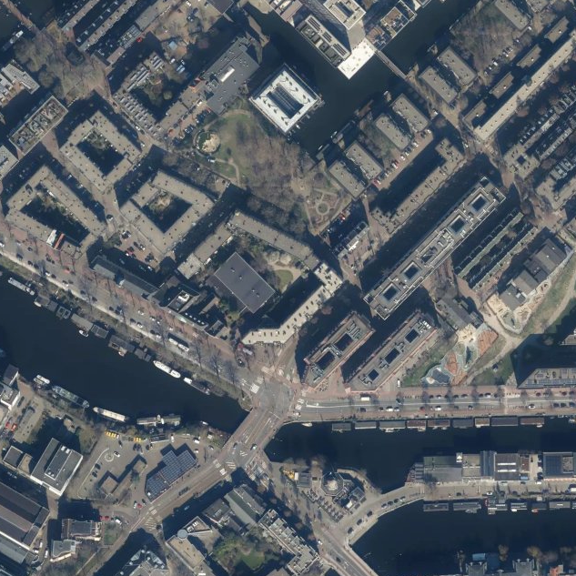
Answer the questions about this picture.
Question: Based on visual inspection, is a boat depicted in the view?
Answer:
Yes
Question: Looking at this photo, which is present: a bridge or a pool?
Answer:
bridge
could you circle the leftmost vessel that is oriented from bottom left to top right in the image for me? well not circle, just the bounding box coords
[1,31,23,50]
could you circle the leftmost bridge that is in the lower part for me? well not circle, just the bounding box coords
[221,406,286,452]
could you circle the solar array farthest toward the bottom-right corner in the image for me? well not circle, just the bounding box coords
[546,455,561,475]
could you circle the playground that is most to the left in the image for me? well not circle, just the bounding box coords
[196,126,223,155]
